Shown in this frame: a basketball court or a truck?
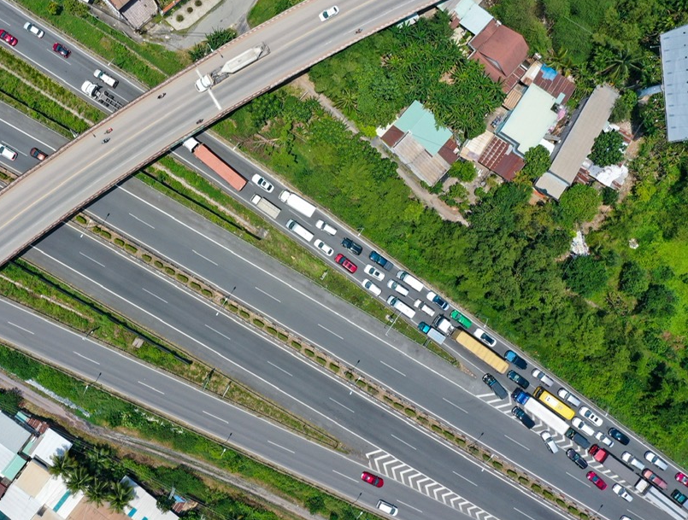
truck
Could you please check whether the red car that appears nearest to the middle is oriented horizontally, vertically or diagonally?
diagonally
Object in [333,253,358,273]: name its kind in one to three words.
car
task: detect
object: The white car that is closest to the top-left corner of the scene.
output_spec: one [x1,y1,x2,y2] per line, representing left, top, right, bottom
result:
[21,20,46,40]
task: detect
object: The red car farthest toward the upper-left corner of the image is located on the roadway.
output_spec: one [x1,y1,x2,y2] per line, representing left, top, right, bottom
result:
[0,28,20,47]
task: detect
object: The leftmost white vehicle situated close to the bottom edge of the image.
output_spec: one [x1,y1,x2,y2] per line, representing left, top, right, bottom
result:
[374,499,398,515]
